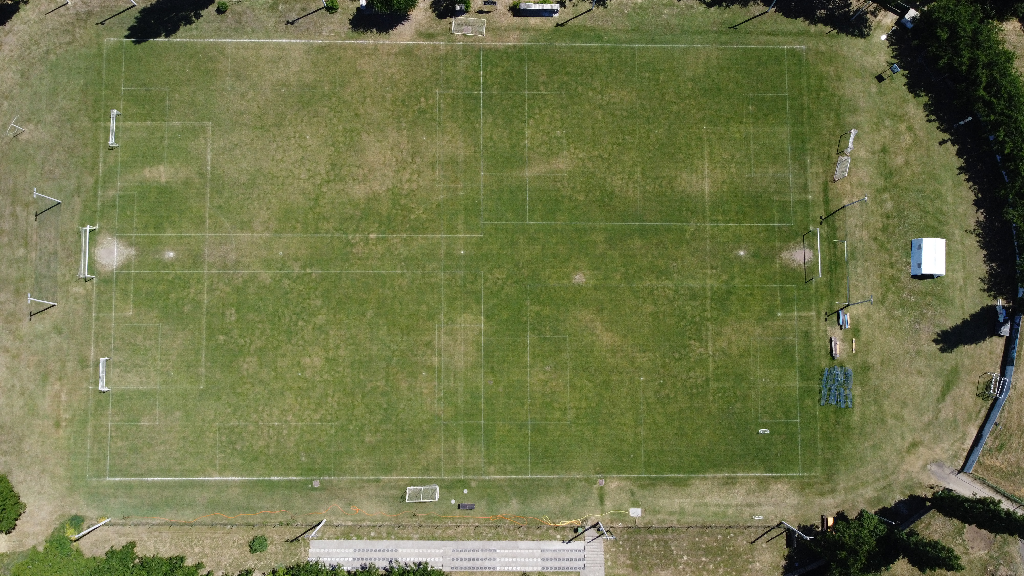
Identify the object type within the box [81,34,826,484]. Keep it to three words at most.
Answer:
soccer field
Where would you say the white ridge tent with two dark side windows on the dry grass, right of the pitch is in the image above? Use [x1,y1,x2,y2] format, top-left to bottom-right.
[911,236,946,281]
